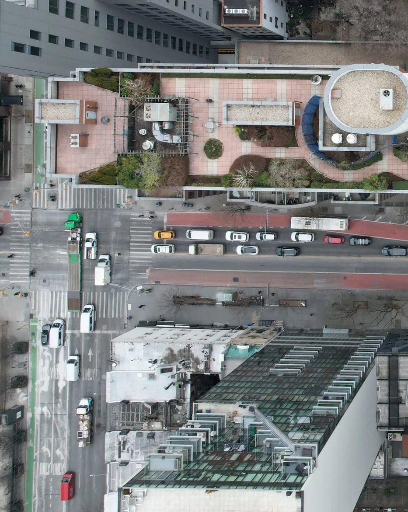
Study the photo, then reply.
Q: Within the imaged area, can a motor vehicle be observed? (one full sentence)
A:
Yes, the picture does show a motor vehicle.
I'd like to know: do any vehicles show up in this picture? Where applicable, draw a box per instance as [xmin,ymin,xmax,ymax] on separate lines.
[49,319,65,348]
[256,232,278,241]
[65,210,82,309]
[325,235,343,244]
[78,400,93,449]
[82,306,95,329]
[152,244,174,254]
[68,357,80,380]
[350,236,371,246]
[278,246,299,256]
[39,324,50,346]
[60,472,75,503]
[187,230,214,240]
[84,233,97,258]
[190,243,221,256]
[290,217,348,230]
[385,246,406,256]
[229,232,249,242]
[237,245,259,255]
[94,255,110,286]
[154,230,175,240]
[293,232,314,242]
